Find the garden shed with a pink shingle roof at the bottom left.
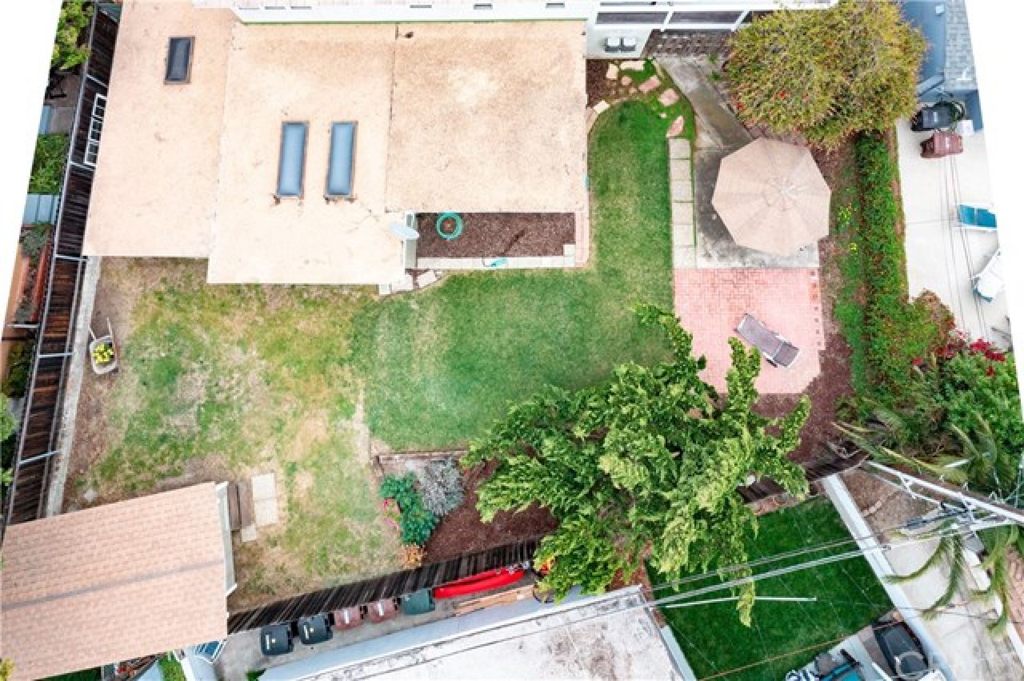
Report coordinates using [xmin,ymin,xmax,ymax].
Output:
[0,482,237,681]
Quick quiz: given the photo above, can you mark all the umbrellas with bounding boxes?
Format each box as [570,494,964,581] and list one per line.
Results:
[712,139,830,257]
